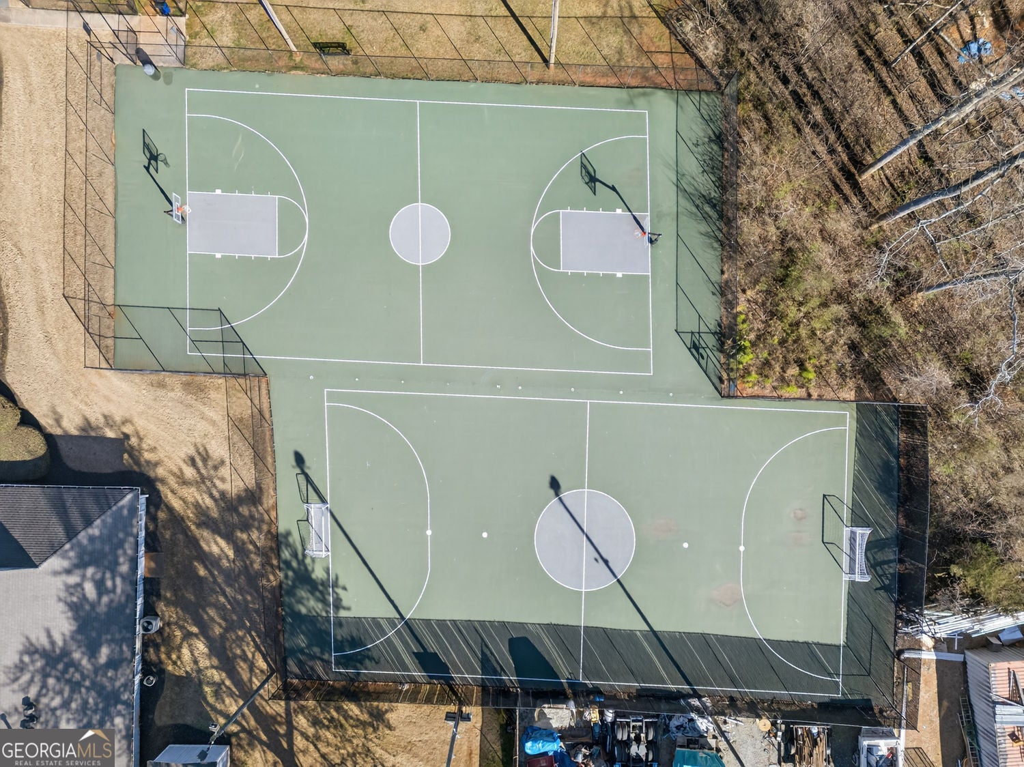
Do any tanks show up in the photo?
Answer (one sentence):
No, this view has no tank in it.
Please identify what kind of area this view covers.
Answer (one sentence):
This image shows a sports ground.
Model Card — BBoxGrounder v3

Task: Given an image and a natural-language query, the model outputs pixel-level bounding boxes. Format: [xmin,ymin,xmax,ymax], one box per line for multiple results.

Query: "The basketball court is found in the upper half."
[113,63,722,397]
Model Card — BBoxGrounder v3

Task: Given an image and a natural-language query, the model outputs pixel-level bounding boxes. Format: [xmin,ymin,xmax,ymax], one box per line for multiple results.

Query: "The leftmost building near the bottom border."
[0,484,166,767]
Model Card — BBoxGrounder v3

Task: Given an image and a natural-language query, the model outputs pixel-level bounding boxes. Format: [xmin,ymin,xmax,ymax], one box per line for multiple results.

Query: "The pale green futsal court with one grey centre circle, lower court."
[267,376,898,710]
